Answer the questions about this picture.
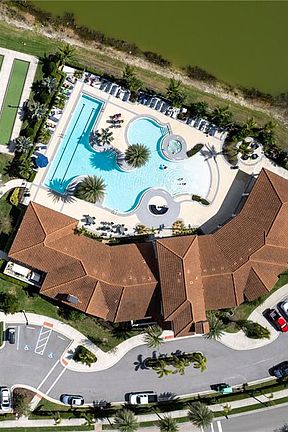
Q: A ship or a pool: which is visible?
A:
pool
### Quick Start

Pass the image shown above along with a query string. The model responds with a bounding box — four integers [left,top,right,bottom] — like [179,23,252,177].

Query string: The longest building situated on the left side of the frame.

[8,201,158,331]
